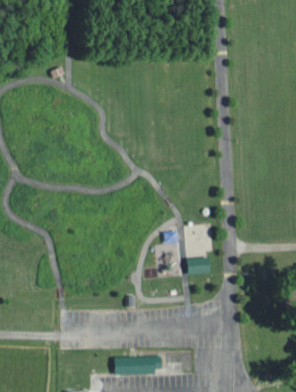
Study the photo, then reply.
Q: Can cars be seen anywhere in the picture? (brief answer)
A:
No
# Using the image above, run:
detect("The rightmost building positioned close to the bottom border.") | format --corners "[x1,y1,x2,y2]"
[114,357,162,374]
